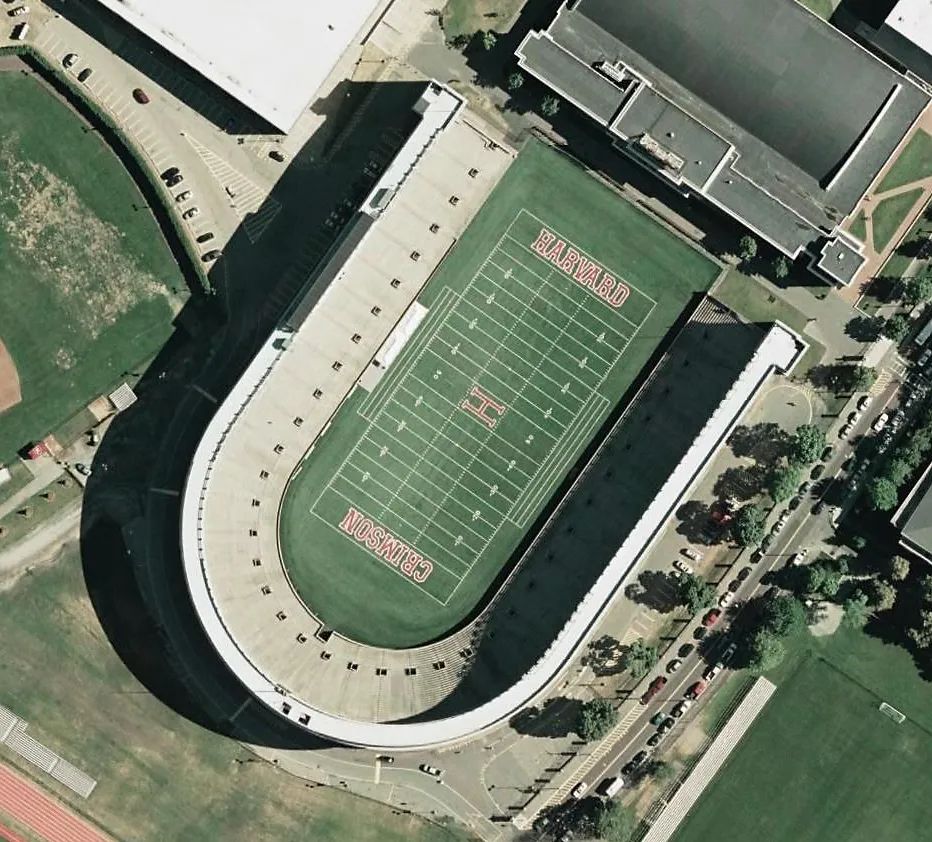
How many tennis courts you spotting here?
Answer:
0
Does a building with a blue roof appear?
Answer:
No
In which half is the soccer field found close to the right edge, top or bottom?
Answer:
bottom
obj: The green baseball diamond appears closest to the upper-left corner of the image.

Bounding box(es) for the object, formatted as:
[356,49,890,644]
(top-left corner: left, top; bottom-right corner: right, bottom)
[0,53,206,456]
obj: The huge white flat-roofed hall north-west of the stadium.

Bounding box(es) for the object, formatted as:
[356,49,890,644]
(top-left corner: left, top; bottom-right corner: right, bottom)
[98,0,387,134]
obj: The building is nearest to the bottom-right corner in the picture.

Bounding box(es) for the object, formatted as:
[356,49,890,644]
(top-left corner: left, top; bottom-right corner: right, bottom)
[893,471,932,564]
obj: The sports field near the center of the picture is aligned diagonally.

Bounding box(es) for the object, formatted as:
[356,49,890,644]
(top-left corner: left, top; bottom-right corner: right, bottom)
[279,135,726,649]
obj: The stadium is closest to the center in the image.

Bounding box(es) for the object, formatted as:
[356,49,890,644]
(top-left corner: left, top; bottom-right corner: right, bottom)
[182,80,809,746]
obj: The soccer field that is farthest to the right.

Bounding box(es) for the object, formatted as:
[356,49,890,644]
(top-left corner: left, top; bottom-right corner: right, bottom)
[663,655,932,842]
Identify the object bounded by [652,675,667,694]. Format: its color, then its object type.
red vehicle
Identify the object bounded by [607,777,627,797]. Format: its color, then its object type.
white vehicle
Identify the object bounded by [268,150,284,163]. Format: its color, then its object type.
black vehicle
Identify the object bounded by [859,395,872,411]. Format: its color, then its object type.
white vehicle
